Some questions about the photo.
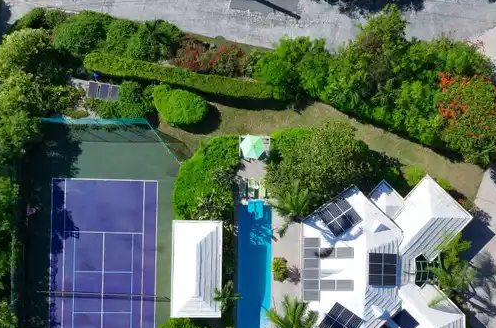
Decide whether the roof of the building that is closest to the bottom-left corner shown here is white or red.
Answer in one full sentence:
The roof of the building that is closest to the bottom-left corner looks white in the image.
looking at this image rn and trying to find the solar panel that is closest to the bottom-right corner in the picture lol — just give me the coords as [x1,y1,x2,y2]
[392,309,419,328]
